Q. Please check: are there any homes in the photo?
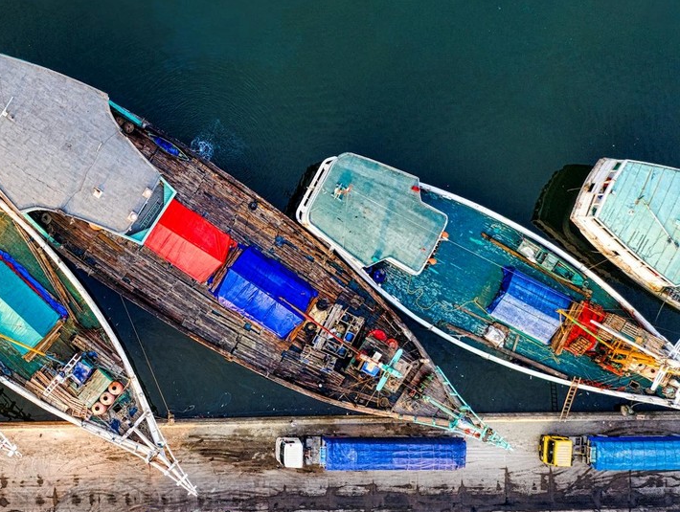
No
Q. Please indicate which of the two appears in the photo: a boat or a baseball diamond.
boat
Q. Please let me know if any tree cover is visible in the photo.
No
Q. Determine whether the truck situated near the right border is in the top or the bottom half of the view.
bottom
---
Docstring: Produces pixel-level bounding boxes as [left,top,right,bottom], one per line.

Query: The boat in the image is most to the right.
[560,157,680,311]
